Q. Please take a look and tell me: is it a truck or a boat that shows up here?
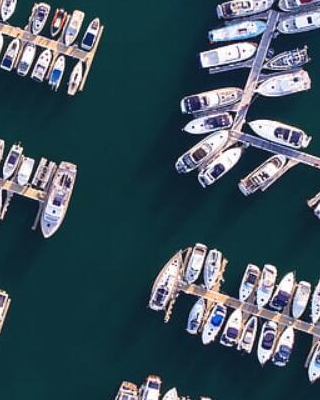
boat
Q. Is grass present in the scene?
No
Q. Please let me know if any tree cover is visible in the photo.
No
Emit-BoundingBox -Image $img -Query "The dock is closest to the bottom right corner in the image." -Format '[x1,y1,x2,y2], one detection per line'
[162,250,320,369]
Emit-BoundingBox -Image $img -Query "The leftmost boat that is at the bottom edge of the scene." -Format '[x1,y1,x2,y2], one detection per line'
[115,378,138,400]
